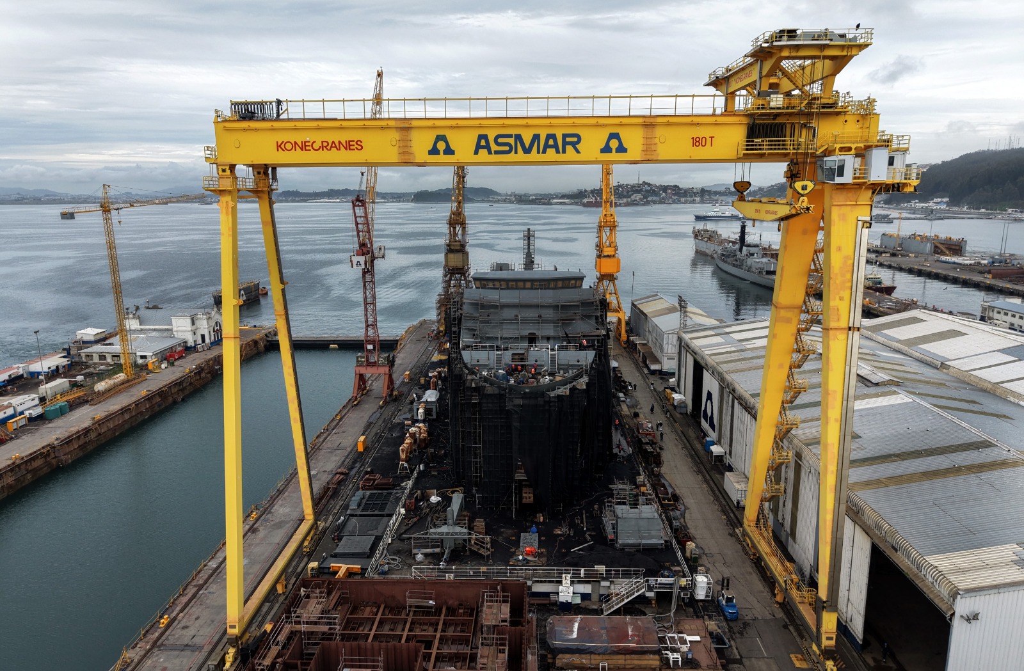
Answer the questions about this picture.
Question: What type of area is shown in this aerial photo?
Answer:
port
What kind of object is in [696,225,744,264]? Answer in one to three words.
ship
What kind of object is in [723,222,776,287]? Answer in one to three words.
ship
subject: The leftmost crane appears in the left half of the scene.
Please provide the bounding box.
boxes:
[65,185,206,379]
